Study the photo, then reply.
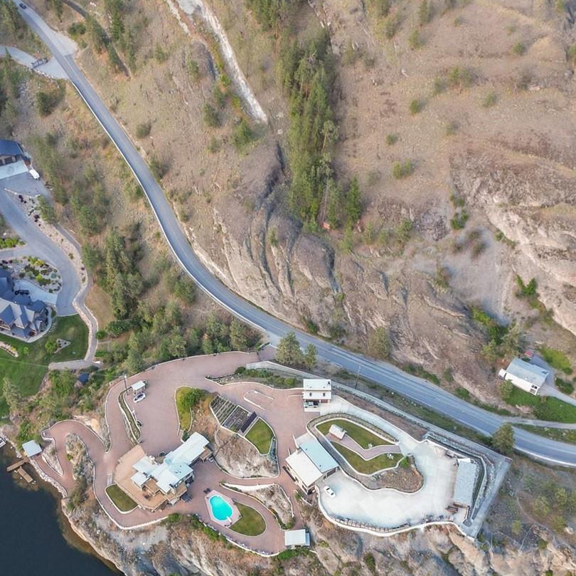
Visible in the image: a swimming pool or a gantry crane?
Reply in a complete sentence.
It is a swimming pool that can be seen here.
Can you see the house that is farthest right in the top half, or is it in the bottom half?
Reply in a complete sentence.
The house that is farthest right is in the bottom half of the image.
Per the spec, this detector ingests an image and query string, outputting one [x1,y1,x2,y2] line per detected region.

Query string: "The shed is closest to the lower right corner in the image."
[453,458,476,510]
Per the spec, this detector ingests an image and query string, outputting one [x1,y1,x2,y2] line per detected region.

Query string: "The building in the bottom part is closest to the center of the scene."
[304,379,331,399]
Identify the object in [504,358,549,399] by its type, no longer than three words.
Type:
house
